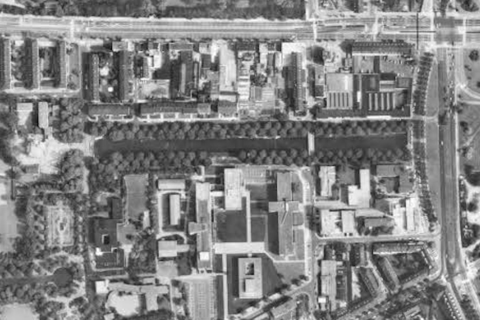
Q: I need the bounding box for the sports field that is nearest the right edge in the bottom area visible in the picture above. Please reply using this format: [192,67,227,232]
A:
[126,174,149,221]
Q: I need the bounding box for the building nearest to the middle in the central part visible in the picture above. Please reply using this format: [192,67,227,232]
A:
[223,169,241,210]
